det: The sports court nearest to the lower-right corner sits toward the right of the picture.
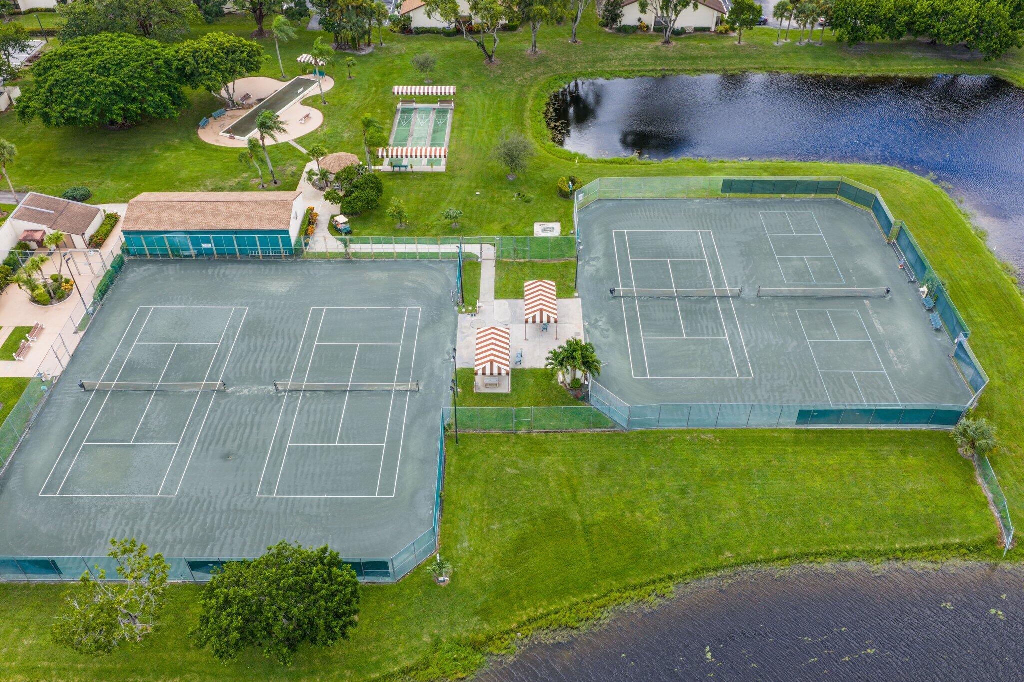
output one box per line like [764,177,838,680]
[760,296,977,430]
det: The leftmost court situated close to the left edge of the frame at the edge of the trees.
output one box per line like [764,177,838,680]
[0,259,296,580]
